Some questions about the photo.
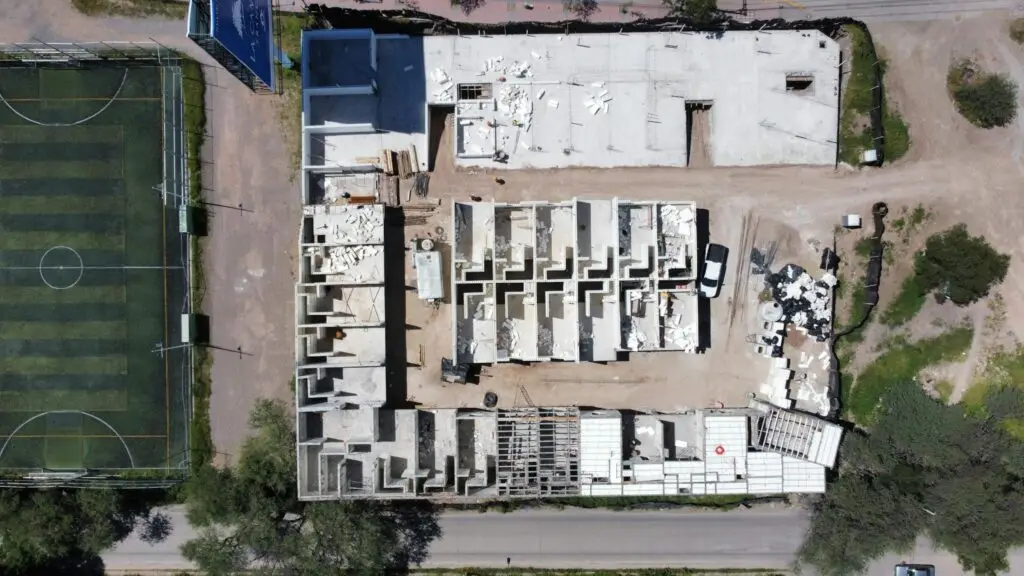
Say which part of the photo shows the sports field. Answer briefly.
left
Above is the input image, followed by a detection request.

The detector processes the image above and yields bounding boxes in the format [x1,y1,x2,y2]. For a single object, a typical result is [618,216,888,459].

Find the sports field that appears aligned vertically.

[0,66,188,469]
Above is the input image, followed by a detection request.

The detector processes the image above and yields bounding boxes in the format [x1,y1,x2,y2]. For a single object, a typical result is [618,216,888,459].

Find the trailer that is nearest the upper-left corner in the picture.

[413,251,444,312]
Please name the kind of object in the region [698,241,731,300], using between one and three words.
truck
